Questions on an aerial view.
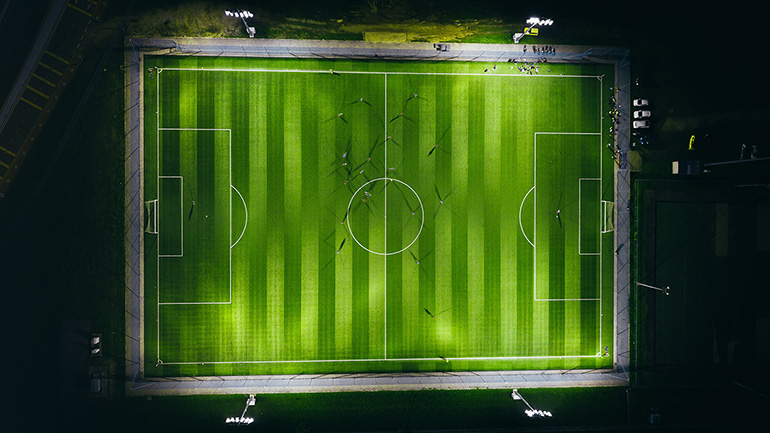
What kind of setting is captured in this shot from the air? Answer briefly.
sports ground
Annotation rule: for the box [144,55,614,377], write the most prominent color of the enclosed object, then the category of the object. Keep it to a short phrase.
green soccer field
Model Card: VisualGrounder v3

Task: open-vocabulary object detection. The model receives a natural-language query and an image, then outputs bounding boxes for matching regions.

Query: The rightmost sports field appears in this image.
[644,190,770,372]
